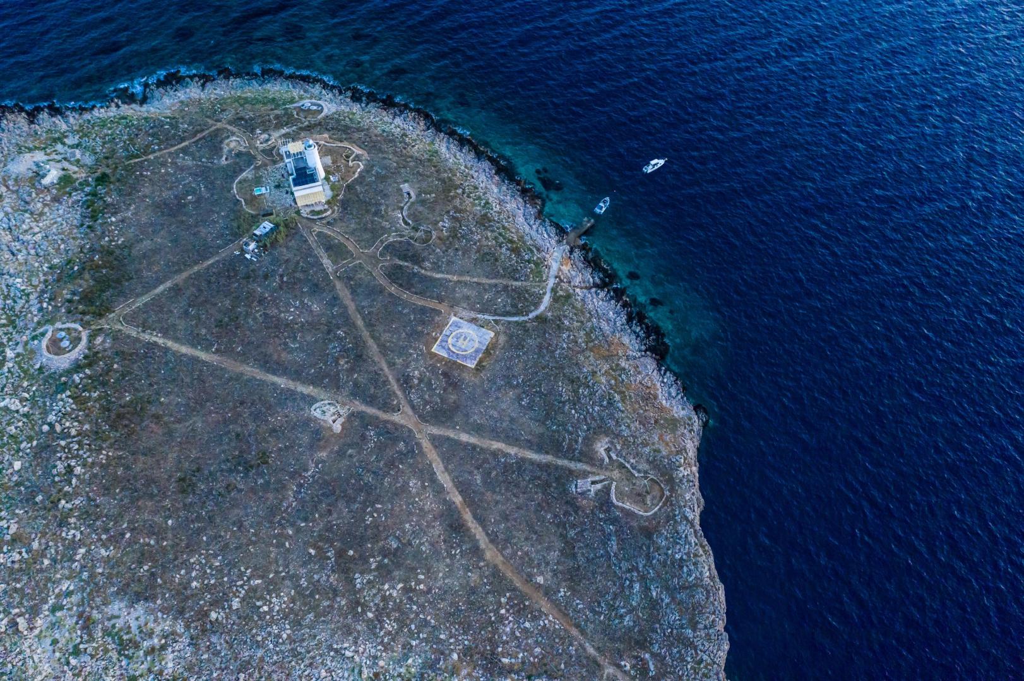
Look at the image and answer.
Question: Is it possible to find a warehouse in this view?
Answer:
No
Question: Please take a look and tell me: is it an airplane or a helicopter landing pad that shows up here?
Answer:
helicopter landing pad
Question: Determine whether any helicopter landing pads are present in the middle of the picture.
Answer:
Yes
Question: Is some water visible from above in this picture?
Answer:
Yes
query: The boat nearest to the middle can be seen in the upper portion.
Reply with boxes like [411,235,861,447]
[594,196,609,214]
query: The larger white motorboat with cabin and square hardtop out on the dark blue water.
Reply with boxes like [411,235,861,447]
[643,158,668,174]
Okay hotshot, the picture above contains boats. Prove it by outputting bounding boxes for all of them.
[643,158,668,174]
[594,196,609,214]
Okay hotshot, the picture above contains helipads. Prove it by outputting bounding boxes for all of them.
[432,317,494,368]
